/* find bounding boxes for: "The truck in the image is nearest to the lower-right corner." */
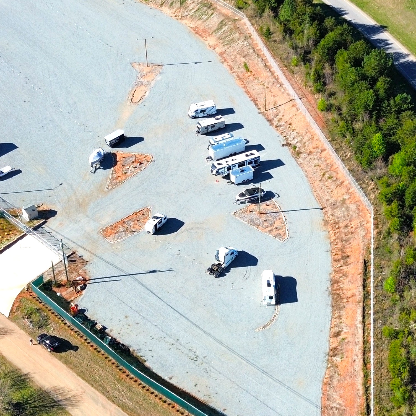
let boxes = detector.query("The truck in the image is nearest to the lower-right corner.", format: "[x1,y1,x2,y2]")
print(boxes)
[207,249,241,276]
